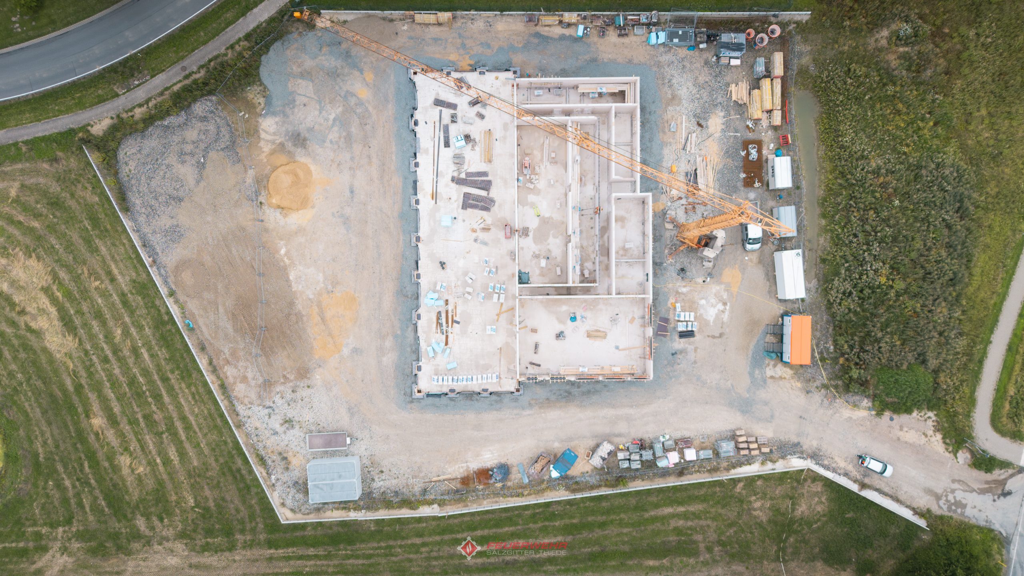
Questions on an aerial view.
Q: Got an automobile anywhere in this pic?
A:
Yes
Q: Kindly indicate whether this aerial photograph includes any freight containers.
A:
Yes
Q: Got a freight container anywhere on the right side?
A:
Yes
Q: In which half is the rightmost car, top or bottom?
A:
bottom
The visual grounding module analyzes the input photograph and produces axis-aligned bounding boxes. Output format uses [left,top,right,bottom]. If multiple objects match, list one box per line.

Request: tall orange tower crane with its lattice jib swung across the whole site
[297,13,795,263]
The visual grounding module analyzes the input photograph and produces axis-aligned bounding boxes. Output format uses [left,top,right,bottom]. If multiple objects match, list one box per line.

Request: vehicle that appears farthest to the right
[856,452,892,477]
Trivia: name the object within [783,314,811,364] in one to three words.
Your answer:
shipping container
